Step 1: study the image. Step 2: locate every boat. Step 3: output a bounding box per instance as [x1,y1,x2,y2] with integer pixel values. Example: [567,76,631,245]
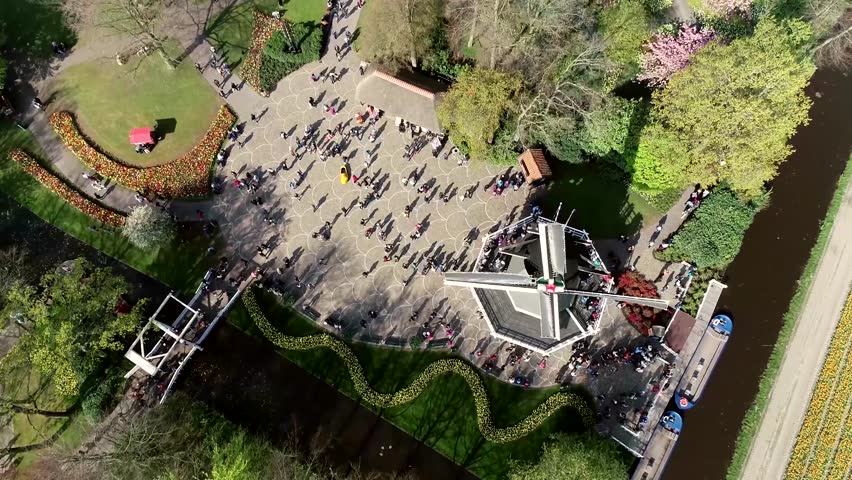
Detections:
[662,309,733,413]
[627,406,683,480]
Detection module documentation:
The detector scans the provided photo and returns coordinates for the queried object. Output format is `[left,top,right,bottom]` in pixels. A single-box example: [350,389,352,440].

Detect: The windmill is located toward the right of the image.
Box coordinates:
[438,203,666,357]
